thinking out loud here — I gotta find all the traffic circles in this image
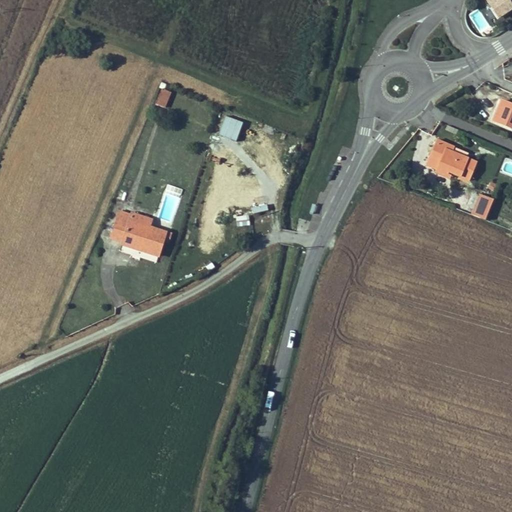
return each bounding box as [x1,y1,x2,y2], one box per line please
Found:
[360,50,434,125]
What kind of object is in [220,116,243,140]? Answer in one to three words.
shed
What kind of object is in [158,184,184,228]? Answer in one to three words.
swimming pool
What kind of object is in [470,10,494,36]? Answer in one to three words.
swimming pool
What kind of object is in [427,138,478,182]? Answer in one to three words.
house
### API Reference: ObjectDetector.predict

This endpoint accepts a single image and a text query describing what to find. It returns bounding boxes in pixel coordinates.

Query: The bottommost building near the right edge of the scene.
[472,194,495,218]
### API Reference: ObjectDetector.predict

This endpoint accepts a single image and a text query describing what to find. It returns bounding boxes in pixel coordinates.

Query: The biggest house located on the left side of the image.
[110,210,167,263]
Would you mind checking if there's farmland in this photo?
Yes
